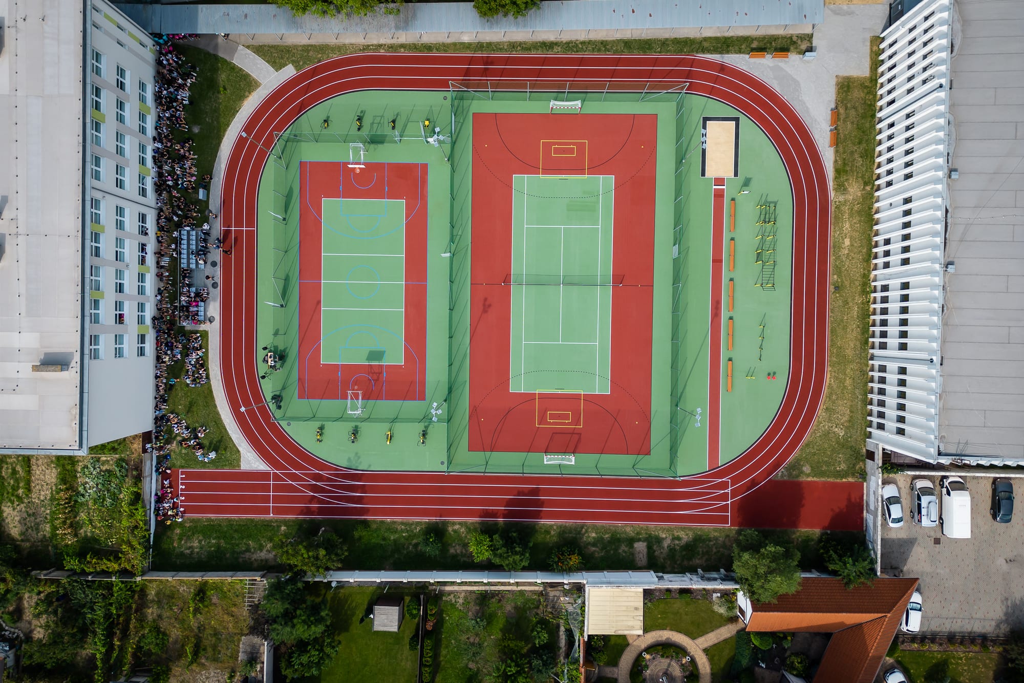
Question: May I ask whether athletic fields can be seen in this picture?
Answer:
Yes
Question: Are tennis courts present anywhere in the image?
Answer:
Yes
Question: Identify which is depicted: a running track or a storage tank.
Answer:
running track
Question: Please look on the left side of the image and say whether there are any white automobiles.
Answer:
No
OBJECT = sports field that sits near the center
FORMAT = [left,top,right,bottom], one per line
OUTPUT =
[259,92,792,475]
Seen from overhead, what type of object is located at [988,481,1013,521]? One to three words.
car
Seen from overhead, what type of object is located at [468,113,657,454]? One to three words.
sports court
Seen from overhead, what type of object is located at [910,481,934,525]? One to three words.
car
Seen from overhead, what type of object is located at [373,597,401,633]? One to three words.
shed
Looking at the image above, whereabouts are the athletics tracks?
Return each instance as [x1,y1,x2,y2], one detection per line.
[180,52,832,526]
